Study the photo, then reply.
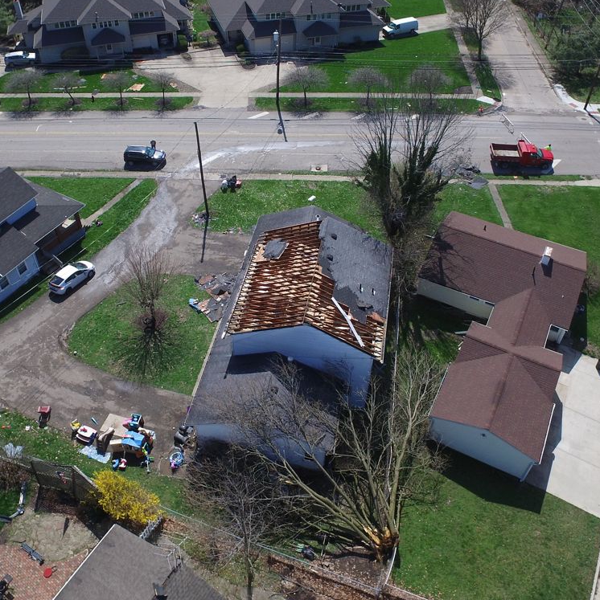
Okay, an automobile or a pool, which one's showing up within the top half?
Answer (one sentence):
Visible within the top half is an automobile.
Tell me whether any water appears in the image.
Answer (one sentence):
No, no water is visible.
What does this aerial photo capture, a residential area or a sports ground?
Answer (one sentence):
The picture captures a residential area.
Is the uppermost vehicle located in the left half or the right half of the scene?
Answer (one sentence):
The uppermost vehicle appears in the right half of the scene.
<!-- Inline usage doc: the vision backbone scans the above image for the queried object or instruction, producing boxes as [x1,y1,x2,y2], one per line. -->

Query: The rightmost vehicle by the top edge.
[381,15,421,36]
